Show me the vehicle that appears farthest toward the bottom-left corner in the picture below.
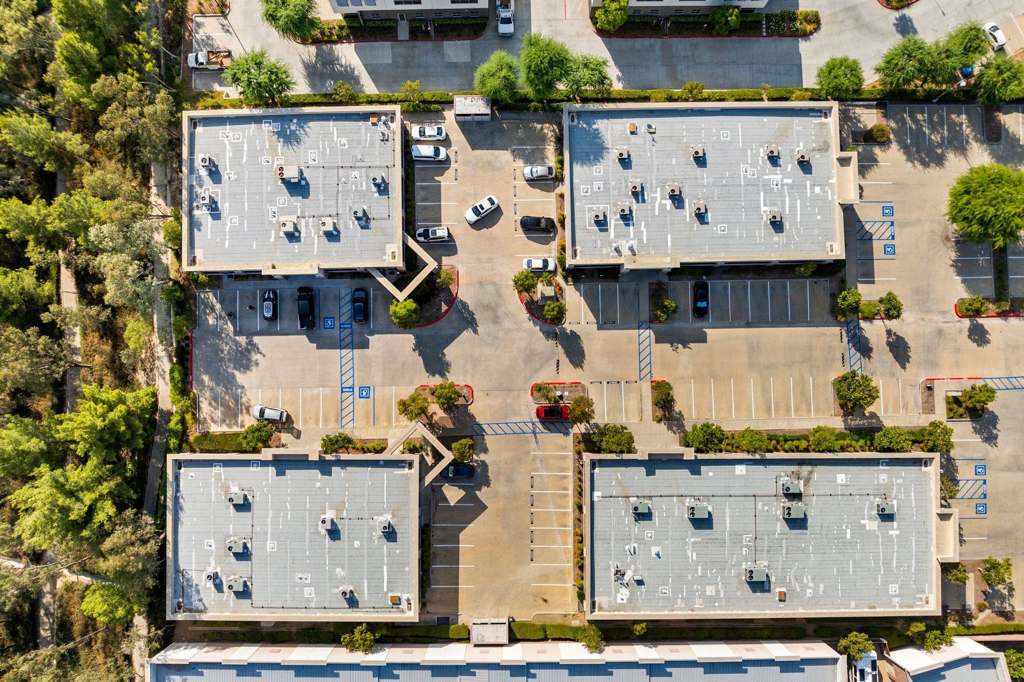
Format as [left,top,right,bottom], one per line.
[253,404,287,422]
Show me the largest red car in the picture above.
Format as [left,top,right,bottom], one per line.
[537,404,568,421]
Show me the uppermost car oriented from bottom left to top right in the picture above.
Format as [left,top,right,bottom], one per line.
[465,196,498,223]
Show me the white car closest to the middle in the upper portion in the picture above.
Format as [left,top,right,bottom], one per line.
[523,257,557,272]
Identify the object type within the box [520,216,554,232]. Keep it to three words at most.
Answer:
car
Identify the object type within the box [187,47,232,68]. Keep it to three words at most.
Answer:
truck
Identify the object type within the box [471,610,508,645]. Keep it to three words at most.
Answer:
building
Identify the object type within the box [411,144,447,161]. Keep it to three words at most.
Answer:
vehicle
